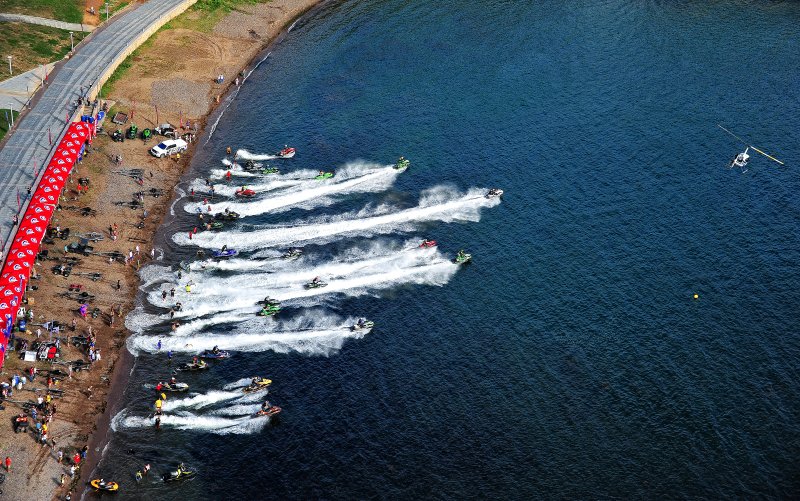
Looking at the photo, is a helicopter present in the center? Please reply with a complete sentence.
No, there is no helicopter in the center.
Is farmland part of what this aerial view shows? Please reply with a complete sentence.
No, the picture contains no farmland.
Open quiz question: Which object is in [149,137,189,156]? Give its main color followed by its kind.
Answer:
white vehicle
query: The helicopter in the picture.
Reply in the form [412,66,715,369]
[712,130,785,173]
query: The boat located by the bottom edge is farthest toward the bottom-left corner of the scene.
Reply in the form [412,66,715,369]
[90,478,118,491]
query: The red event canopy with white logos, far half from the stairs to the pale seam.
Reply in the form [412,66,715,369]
[25,120,96,217]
